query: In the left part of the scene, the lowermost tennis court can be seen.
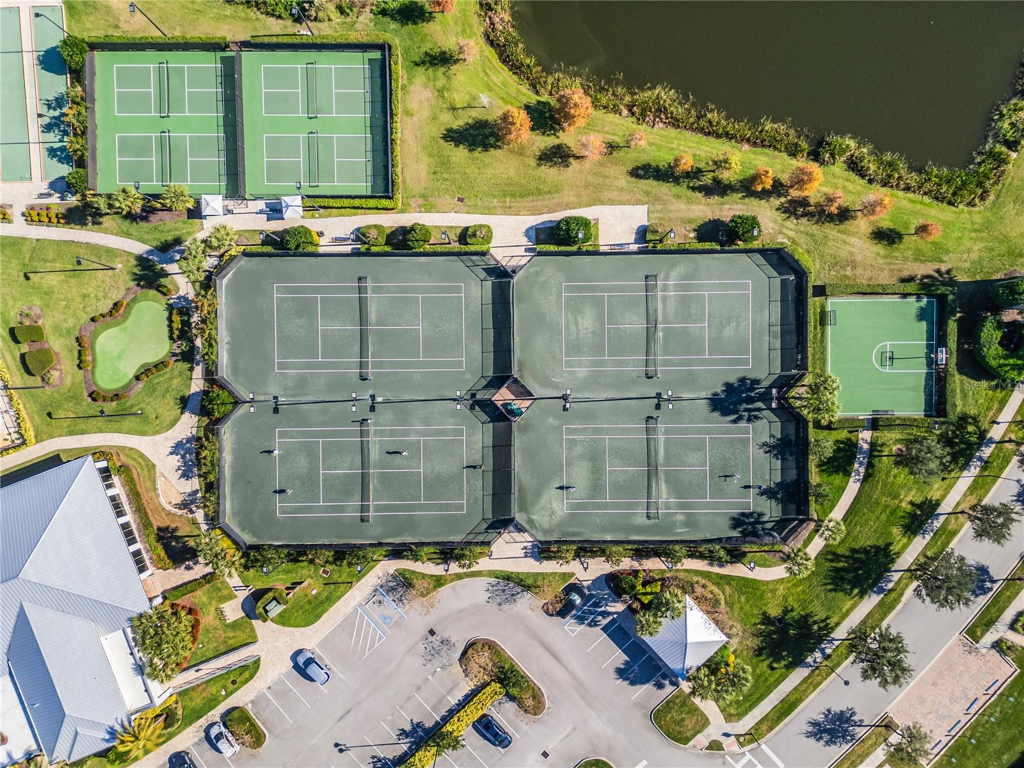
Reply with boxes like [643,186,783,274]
[225,399,515,545]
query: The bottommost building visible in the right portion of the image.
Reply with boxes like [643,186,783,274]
[642,592,729,680]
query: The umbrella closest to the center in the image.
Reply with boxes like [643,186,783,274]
[507,402,522,417]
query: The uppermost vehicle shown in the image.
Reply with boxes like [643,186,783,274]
[555,585,591,620]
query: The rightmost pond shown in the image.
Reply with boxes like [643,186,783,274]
[509,0,1024,182]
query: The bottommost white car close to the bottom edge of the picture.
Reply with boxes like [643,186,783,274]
[207,721,240,759]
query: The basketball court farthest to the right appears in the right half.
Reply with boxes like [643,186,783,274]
[827,297,936,417]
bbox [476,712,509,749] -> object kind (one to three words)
car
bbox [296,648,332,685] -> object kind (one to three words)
car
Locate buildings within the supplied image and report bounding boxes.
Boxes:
[642,592,729,680]
[0,454,171,766]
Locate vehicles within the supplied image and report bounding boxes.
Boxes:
[296,648,332,685]
[476,712,509,749]
[555,585,591,620]
[207,721,240,759]
[170,749,198,768]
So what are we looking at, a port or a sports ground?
sports ground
